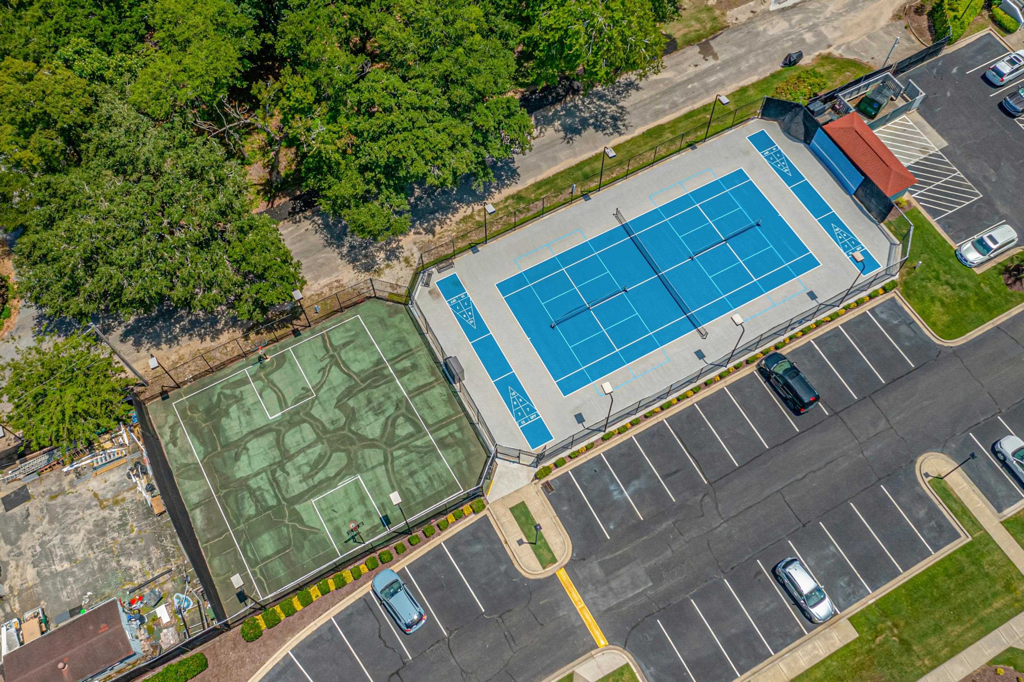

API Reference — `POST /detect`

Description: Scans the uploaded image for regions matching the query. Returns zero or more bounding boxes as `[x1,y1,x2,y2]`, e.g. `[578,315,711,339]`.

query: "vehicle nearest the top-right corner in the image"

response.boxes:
[986,50,1024,86]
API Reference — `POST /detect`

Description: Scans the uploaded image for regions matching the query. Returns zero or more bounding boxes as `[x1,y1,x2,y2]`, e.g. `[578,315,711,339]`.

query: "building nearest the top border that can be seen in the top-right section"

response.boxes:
[823,111,919,204]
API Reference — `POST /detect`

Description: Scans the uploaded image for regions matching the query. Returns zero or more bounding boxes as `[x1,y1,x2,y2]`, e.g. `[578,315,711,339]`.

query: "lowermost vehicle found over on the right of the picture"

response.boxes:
[776,556,833,625]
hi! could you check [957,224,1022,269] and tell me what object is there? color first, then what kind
white car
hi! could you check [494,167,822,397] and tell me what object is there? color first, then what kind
blue tennis court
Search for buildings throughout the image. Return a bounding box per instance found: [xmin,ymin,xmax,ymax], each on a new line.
[2,598,150,682]
[823,111,919,204]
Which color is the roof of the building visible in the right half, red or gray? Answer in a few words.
red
